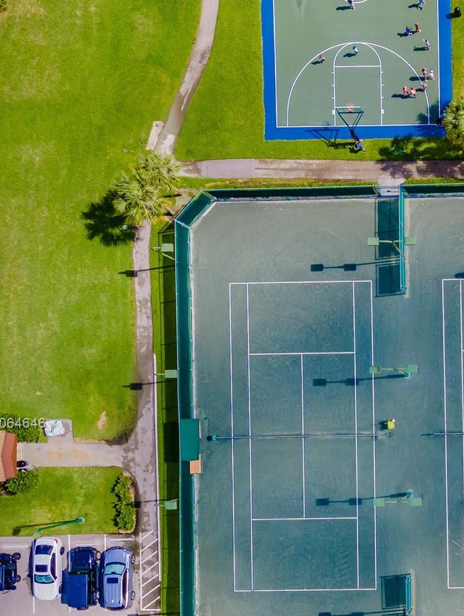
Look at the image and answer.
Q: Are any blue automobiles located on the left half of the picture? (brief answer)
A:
Yes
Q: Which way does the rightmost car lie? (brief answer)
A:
from top to bottom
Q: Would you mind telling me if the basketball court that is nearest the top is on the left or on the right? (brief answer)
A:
right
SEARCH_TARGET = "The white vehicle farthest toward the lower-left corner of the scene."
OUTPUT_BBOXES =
[31,537,64,600]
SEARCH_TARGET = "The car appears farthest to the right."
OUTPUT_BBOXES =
[102,547,135,610]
